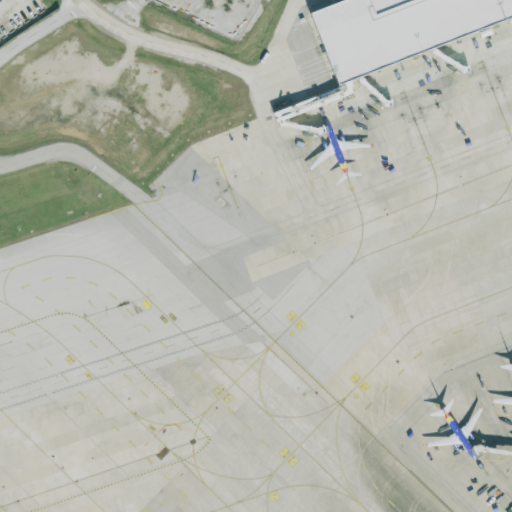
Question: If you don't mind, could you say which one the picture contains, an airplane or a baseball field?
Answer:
airplane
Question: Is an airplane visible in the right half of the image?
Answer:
Yes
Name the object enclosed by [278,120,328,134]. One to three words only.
jet bridge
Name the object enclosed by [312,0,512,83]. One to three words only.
building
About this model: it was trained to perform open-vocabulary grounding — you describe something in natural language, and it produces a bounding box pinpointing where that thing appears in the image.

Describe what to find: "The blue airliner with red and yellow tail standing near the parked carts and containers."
[426,400,482,458]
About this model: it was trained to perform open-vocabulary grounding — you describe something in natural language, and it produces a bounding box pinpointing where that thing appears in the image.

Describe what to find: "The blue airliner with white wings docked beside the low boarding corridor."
[310,120,373,184]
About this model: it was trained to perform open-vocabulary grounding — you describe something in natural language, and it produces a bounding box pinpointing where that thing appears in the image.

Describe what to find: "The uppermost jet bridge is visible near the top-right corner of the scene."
[432,50,472,74]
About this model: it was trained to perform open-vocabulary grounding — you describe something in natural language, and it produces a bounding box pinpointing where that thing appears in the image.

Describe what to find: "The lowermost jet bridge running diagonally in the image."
[360,78,396,108]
